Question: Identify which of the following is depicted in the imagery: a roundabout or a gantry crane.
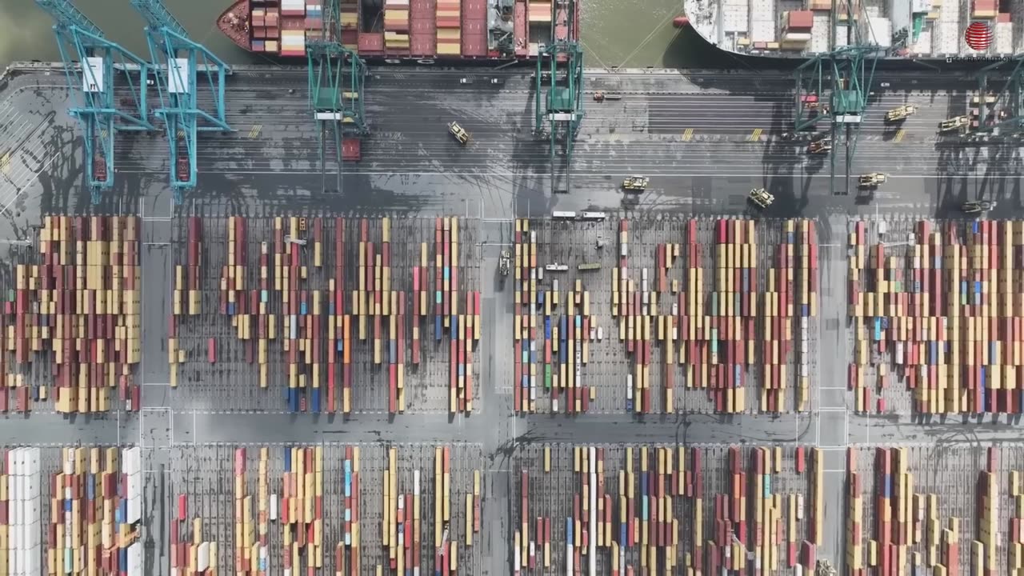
gantry crane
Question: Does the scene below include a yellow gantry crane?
No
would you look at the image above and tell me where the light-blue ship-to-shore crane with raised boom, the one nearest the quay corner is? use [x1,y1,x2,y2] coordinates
[41,0,159,199]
